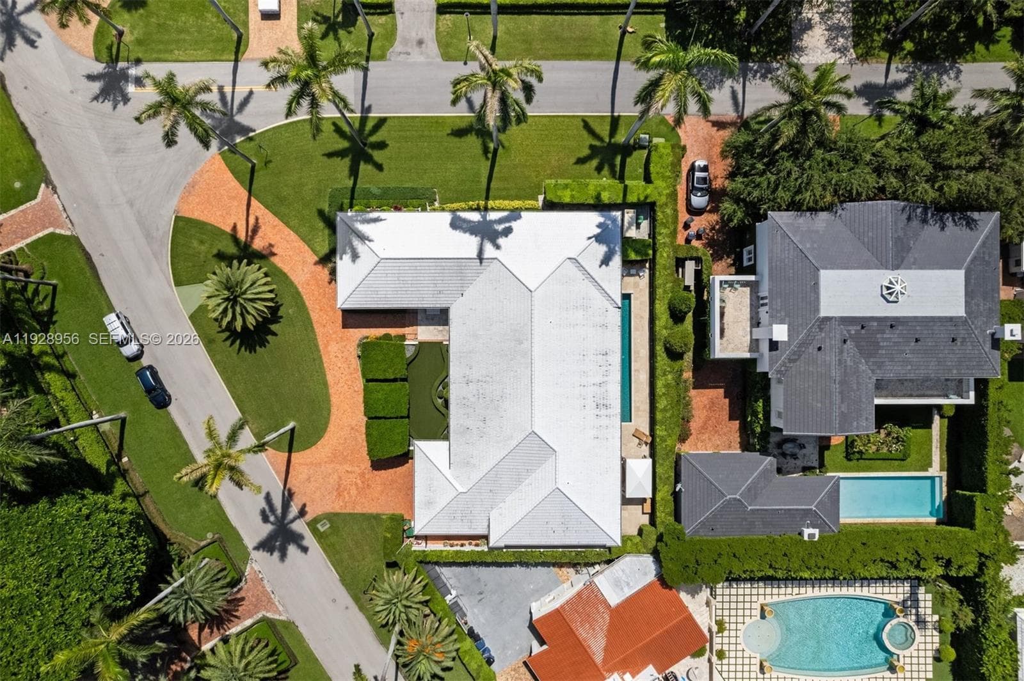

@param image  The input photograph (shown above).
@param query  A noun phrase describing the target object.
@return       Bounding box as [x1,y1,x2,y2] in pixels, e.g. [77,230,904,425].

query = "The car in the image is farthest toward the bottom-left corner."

[132,365,168,409]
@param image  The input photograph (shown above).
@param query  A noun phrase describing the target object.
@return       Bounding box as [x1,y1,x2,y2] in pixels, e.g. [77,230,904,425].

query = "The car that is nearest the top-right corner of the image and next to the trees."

[689,161,713,210]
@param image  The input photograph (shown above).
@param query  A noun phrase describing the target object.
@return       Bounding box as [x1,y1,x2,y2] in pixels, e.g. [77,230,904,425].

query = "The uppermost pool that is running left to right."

[840,475,945,521]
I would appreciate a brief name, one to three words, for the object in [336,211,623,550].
house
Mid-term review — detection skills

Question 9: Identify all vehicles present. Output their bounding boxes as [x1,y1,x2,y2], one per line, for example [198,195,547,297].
[689,161,713,210]
[254,0,279,15]
[132,365,168,409]
[98,309,141,359]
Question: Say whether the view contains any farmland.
No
